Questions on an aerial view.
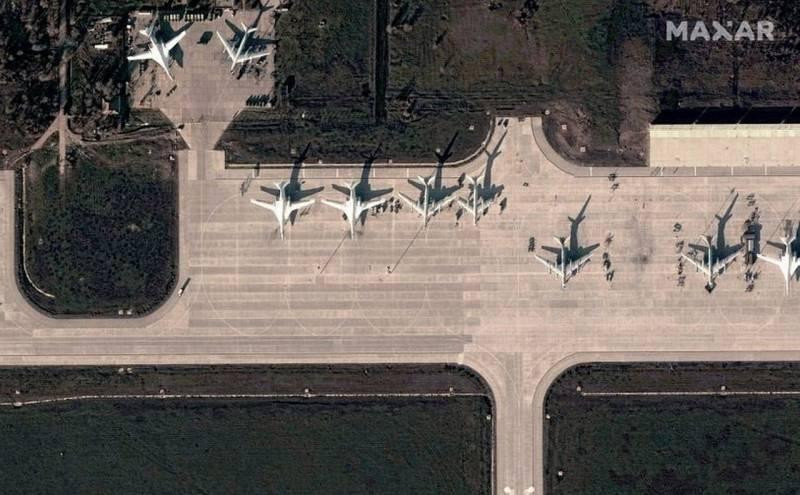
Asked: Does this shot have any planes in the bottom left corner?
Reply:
No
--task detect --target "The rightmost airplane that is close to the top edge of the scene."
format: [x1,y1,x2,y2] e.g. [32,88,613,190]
[216,21,270,73]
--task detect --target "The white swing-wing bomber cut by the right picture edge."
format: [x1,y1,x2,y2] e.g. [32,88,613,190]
[756,233,800,295]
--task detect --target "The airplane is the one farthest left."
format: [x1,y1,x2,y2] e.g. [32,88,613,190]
[124,23,182,80]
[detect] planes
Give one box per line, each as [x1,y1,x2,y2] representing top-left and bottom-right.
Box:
[250,180,313,240]
[756,233,800,295]
[458,172,491,226]
[320,179,384,240]
[124,23,182,80]
[681,235,739,290]
[534,234,591,289]
[398,173,455,227]
[216,21,270,73]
